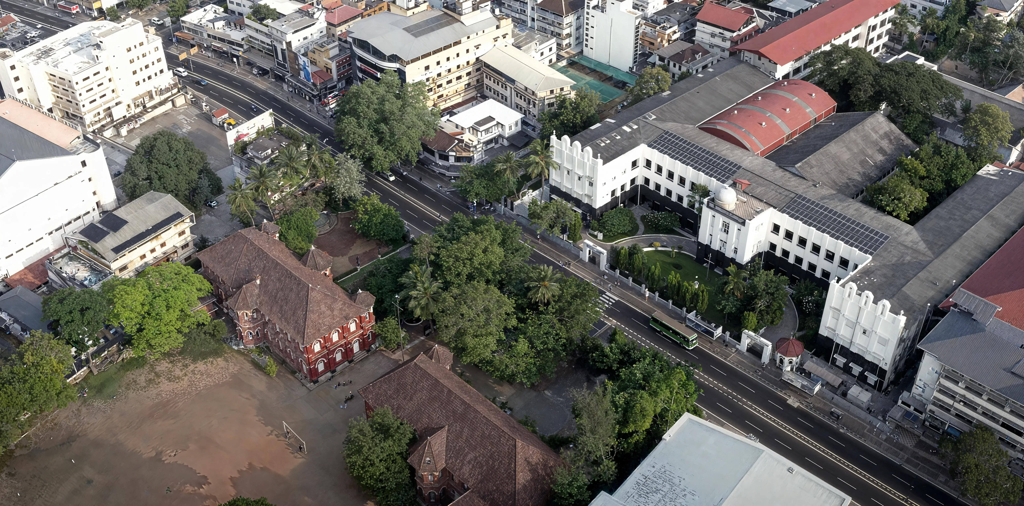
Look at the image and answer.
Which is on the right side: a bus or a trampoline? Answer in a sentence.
You can see a bus on the right side.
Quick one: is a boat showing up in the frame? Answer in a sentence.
No, the picture doesn't show any boat.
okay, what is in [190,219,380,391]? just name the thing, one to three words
building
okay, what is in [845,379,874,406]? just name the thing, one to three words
building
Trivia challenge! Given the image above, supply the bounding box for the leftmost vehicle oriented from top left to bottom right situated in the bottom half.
[650,311,699,348]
